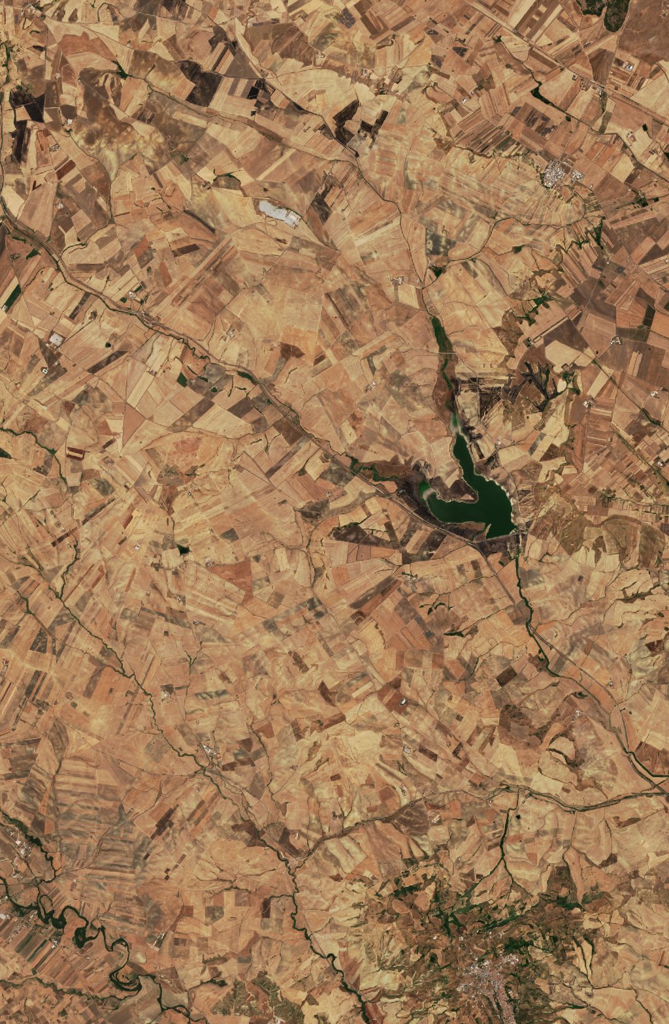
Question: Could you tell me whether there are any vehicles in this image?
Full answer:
No, the scene contains no vehicle.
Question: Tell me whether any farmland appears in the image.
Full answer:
Yes, some farmland is visible.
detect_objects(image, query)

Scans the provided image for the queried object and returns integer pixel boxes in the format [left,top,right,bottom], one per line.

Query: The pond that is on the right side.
[426,435,516,537]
